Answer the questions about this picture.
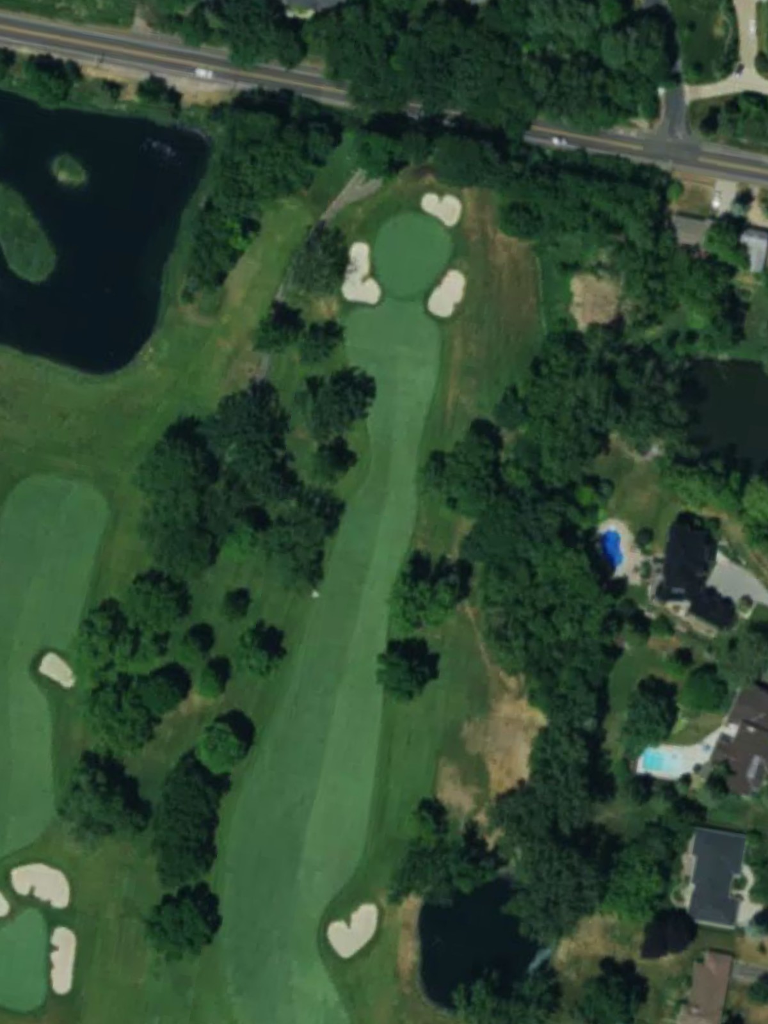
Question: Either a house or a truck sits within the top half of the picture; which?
house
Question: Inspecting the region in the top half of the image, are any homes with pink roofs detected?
No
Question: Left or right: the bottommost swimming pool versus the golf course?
on its right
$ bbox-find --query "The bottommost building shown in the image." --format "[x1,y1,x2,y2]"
[679,951,732,1024]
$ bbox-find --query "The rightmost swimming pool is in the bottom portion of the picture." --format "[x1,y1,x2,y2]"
[642,747,683,773]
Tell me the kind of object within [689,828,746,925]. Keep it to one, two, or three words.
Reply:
house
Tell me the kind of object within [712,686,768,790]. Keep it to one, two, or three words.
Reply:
house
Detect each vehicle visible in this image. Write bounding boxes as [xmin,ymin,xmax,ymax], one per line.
[195,69,213,79]
[311,590,318,599]
[748,18,757,34]
[734,61,744,77]
[550,137,567,146]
